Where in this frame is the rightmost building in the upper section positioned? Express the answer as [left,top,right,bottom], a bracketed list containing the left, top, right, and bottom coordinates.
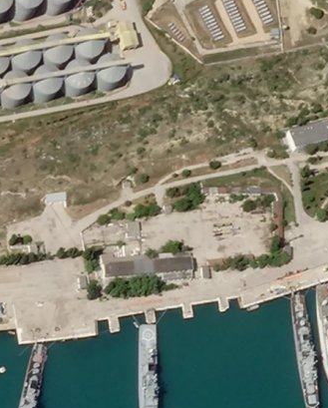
[288,119,328,151]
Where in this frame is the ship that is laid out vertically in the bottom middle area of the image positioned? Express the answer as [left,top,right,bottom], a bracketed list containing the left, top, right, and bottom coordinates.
[133,310,166,408]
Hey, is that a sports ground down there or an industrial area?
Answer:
industrial area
